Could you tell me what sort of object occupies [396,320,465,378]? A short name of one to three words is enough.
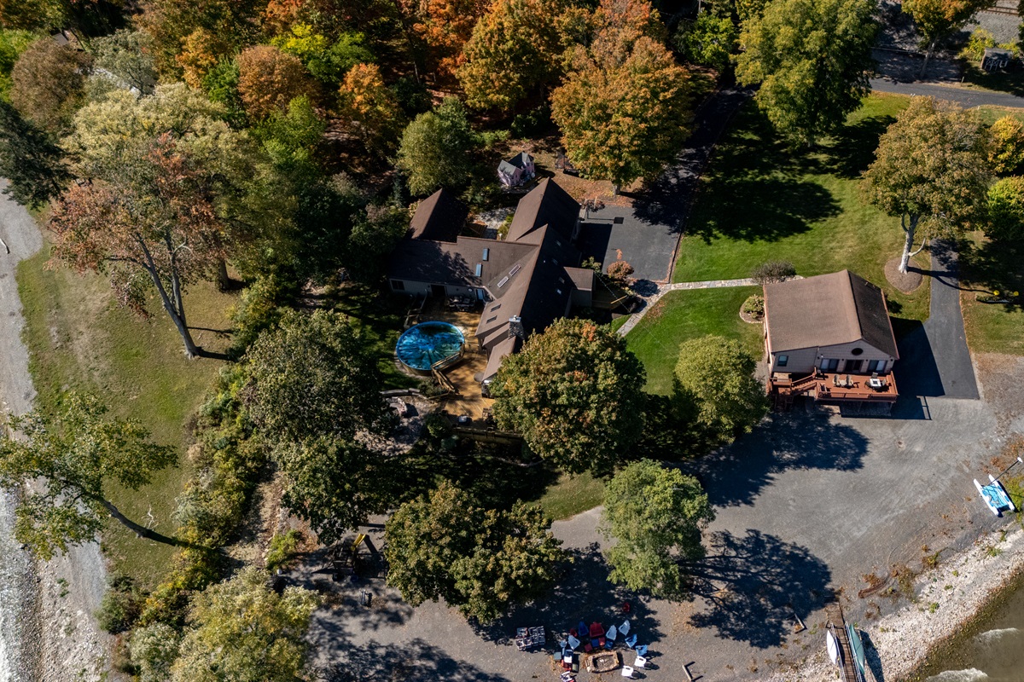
swimming pool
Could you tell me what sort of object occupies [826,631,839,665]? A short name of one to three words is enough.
boat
